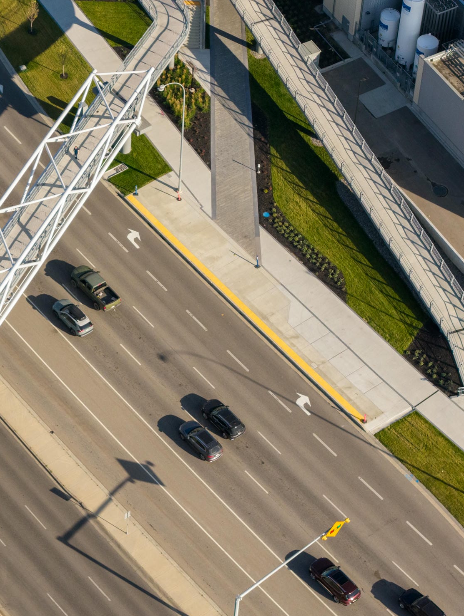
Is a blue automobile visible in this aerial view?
No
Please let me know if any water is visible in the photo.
No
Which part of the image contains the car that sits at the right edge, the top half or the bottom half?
bottom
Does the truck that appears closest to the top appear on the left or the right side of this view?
left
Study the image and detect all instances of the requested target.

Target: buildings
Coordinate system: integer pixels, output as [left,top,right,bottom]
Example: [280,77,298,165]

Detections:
[411,35,464,163]
[323,0,405,37]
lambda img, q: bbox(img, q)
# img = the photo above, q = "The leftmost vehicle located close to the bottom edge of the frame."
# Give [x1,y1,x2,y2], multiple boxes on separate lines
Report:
[309,556,363,612]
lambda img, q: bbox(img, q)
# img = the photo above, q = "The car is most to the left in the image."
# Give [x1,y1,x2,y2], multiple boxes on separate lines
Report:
[52,298,94,340]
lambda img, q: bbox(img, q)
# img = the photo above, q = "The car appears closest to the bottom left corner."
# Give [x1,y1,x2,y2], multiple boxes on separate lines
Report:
[179,419,224,468]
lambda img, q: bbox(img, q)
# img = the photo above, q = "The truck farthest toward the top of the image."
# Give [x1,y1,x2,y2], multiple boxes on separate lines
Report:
[72,264,122,313]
